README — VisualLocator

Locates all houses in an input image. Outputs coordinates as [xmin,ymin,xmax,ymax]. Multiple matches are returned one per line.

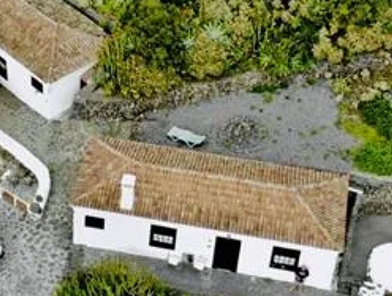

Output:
[0,0,108,124]
[70,134,351,285]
